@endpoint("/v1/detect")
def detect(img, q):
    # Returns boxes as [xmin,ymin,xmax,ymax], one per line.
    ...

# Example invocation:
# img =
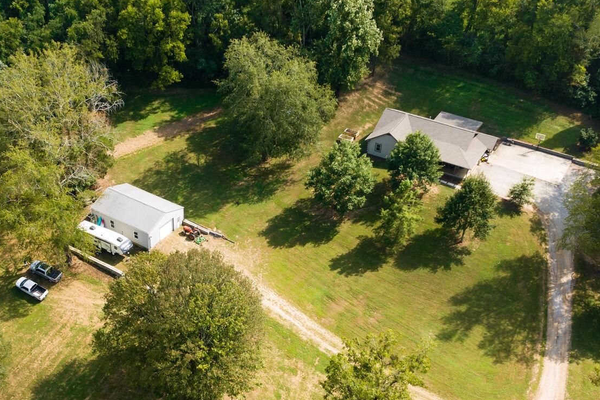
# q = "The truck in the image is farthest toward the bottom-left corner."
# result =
[14,278,52,304]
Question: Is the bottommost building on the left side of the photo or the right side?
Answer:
left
